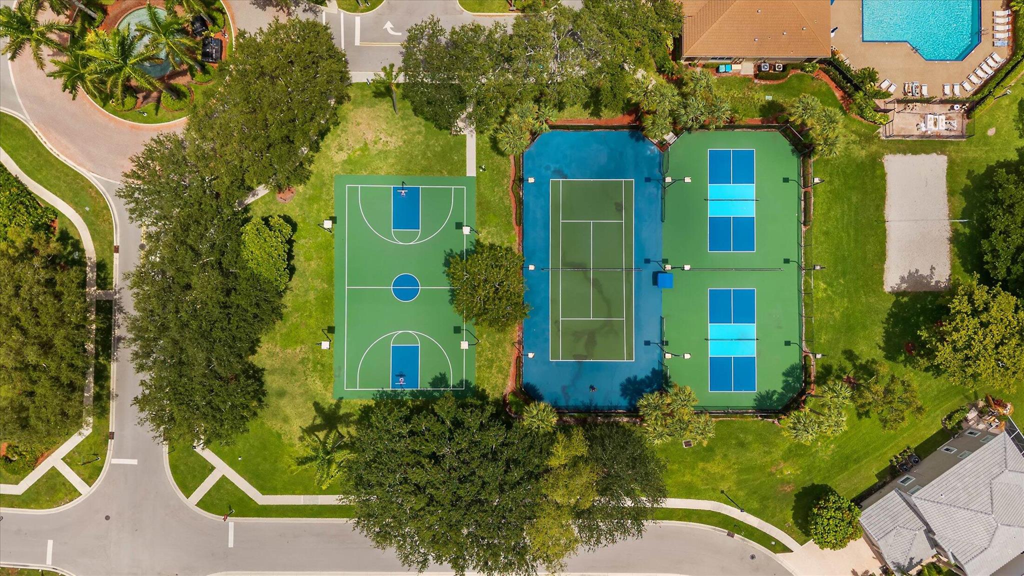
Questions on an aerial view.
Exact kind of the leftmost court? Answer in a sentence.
It looks like the leftmost court is a basketball court.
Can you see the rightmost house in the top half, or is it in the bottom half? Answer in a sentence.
The rightmost house is in the bottom half of the image.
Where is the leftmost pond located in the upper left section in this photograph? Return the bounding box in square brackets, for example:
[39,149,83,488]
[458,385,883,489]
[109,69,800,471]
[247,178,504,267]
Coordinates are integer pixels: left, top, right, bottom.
[112,3,189,80]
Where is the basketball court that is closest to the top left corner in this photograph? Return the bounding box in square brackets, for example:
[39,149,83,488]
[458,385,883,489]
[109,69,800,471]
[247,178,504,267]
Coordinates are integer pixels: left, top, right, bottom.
[333,175,476,399]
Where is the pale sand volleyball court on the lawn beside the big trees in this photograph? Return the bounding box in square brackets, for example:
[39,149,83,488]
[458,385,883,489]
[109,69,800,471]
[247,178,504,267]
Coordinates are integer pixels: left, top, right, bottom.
[882,153,953,294]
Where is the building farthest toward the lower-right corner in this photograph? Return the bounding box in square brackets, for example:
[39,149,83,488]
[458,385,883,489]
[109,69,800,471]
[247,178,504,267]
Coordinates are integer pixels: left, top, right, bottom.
[862,424,1024,576]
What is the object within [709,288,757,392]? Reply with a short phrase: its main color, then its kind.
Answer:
blue sports court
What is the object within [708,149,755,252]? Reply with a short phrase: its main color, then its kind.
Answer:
blue sports court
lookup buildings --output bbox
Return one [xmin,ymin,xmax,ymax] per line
[862,424,1024,576]
[649,0,831,64]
